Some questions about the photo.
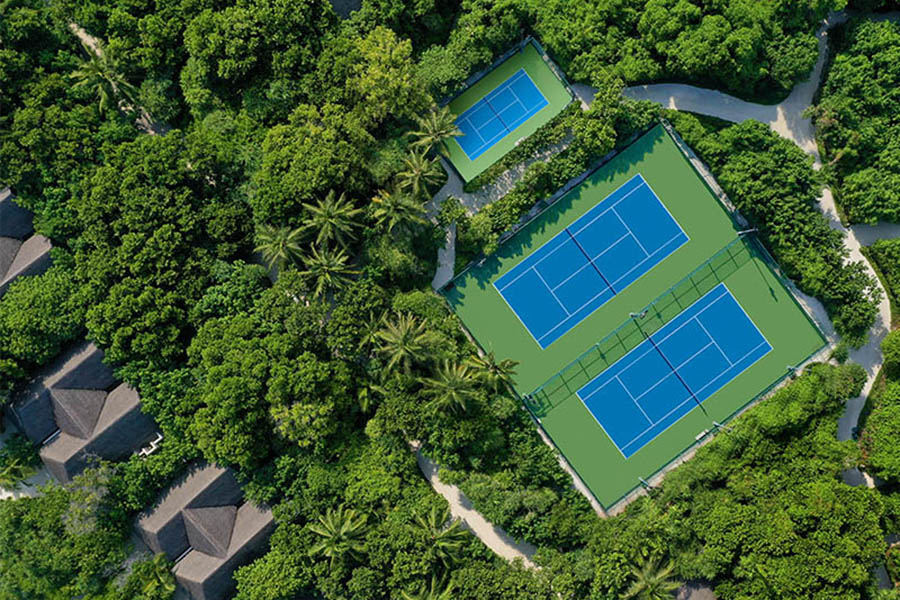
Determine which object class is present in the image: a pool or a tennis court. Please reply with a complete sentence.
Looking from above, you can make out a tennis court.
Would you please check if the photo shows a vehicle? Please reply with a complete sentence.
No, I can see no vehicle in this picture.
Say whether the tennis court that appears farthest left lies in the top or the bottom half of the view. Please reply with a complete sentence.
You can find the tennis court that appears farthest left in the top half.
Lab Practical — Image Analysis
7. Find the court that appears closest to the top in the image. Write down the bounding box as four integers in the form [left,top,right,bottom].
[432,43,572,182]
